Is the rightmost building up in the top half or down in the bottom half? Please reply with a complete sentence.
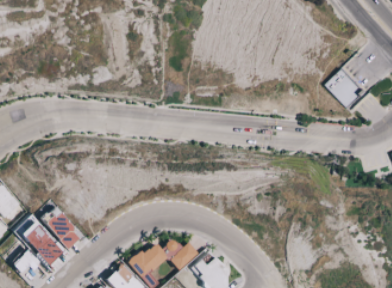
The rightmost building sits in the top half of the picture.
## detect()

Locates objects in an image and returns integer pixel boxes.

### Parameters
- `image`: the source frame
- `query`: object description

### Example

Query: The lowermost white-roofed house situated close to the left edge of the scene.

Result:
[6,246,40,280]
